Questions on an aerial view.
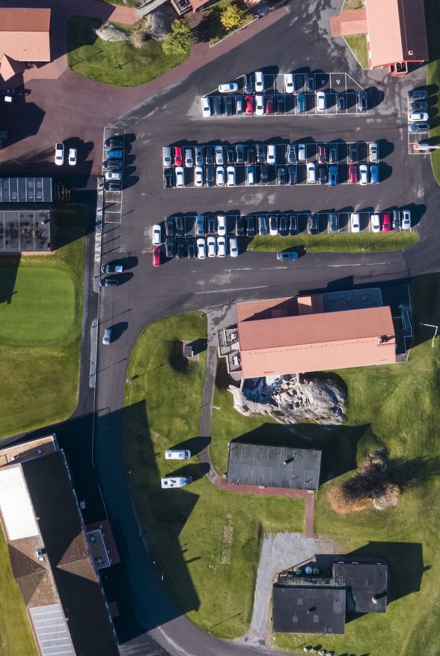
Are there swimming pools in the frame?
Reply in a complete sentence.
No, no swimming pool is visible in the view.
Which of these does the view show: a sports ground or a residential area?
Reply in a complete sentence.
The picture captures a residential area.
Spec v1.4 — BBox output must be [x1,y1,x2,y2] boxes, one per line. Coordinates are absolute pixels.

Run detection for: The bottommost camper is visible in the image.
[163,476,189,488]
